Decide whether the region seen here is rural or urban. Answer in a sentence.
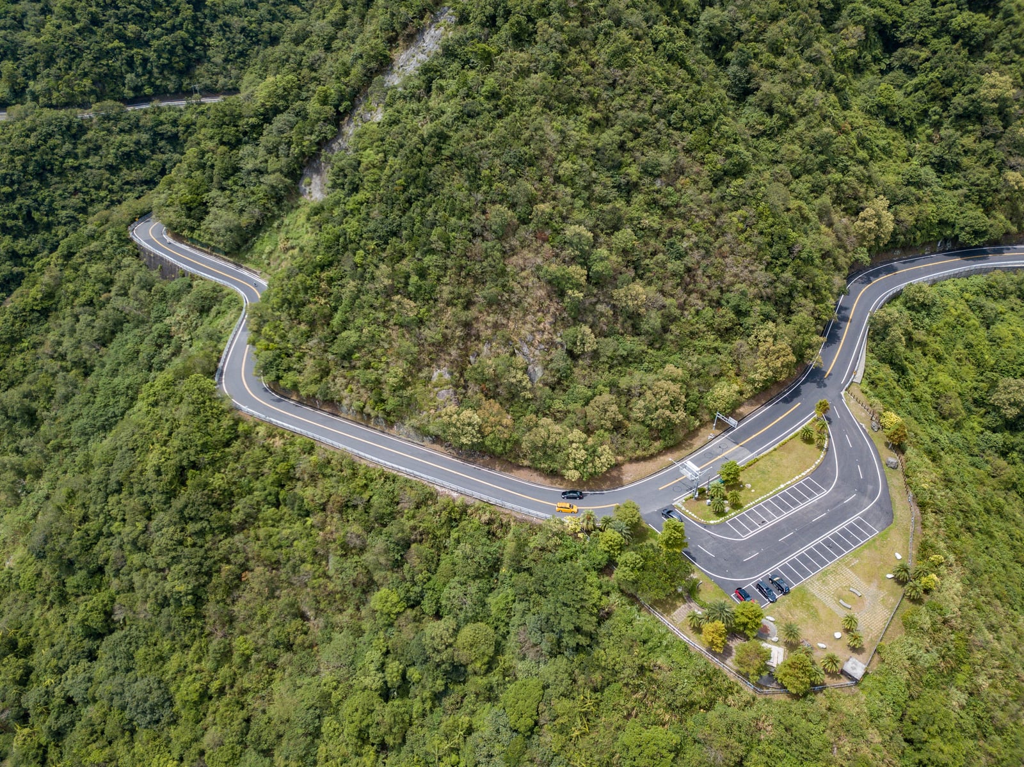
From above, the setting appears rural.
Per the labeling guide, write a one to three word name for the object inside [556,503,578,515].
vehicle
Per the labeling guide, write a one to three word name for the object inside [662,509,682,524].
car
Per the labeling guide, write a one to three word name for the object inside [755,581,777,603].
car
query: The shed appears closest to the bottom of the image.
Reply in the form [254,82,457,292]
[840,657,866,685]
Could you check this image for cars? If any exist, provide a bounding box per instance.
[562,491,583,500]
[734,588,755,608]
[662,509,682,524]
[755,581,777,603]
[556,503,578,515]
[768,573,791,594]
